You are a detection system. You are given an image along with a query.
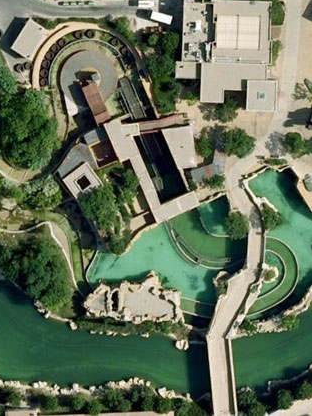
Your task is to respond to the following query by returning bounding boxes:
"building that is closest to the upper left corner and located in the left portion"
[10,18,48,59]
